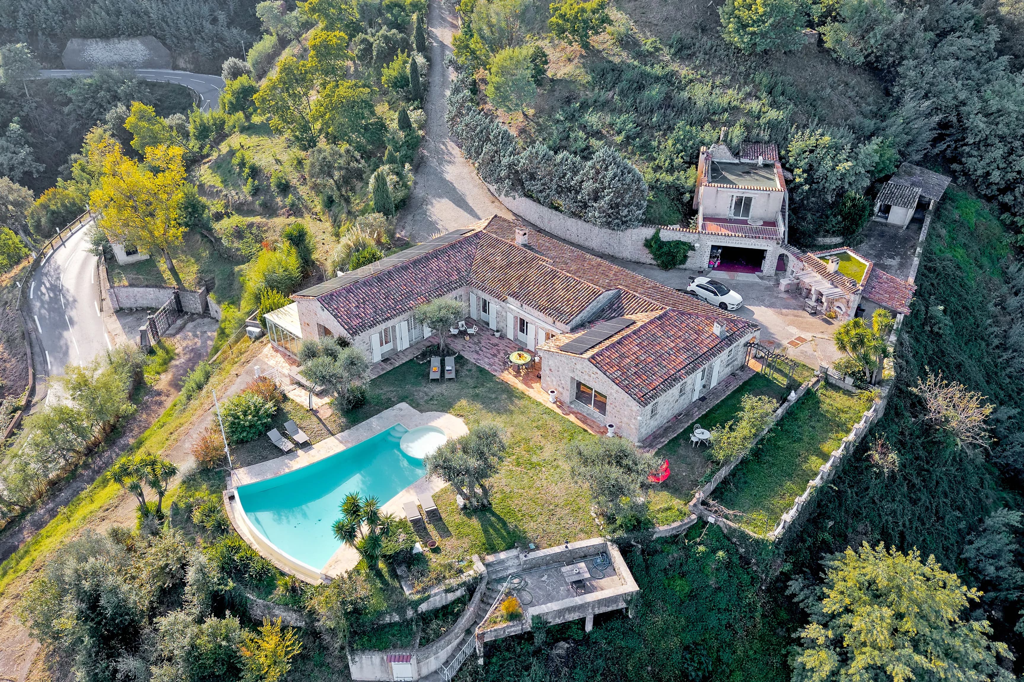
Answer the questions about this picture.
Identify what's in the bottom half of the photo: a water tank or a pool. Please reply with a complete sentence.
The feature located in the bottom half of the photo is a pool.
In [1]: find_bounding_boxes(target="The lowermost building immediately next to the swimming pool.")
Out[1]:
[262,214,762,446]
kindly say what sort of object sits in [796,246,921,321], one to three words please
building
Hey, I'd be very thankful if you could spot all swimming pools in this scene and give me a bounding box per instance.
[211,402,466,604]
